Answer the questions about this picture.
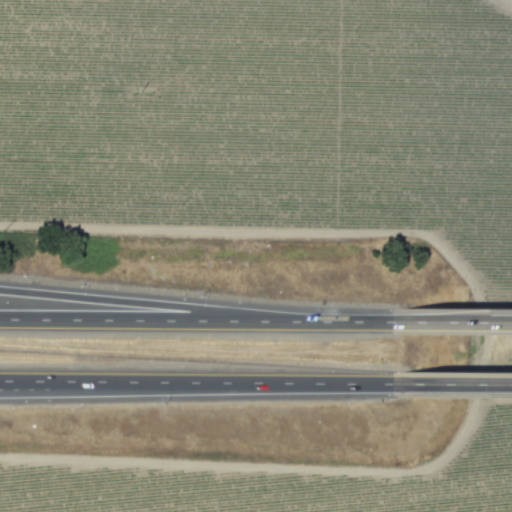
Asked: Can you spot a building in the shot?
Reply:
No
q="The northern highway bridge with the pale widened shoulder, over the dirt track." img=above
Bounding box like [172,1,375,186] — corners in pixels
[394,309,512,336]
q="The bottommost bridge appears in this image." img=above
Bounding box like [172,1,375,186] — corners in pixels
[394,372,512,399]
